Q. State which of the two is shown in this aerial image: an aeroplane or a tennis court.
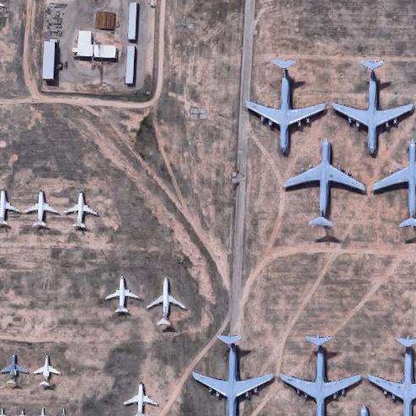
aeroplane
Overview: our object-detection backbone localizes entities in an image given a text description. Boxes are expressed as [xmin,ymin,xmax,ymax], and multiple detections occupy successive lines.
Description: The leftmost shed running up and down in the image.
[42,41,58,81]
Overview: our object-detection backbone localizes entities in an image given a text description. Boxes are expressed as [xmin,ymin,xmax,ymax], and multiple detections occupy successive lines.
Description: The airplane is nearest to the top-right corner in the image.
[334,59,413,157]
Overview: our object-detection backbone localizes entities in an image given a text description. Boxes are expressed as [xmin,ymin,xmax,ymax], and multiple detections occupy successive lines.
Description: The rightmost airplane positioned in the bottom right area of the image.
[368,336,416,416]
